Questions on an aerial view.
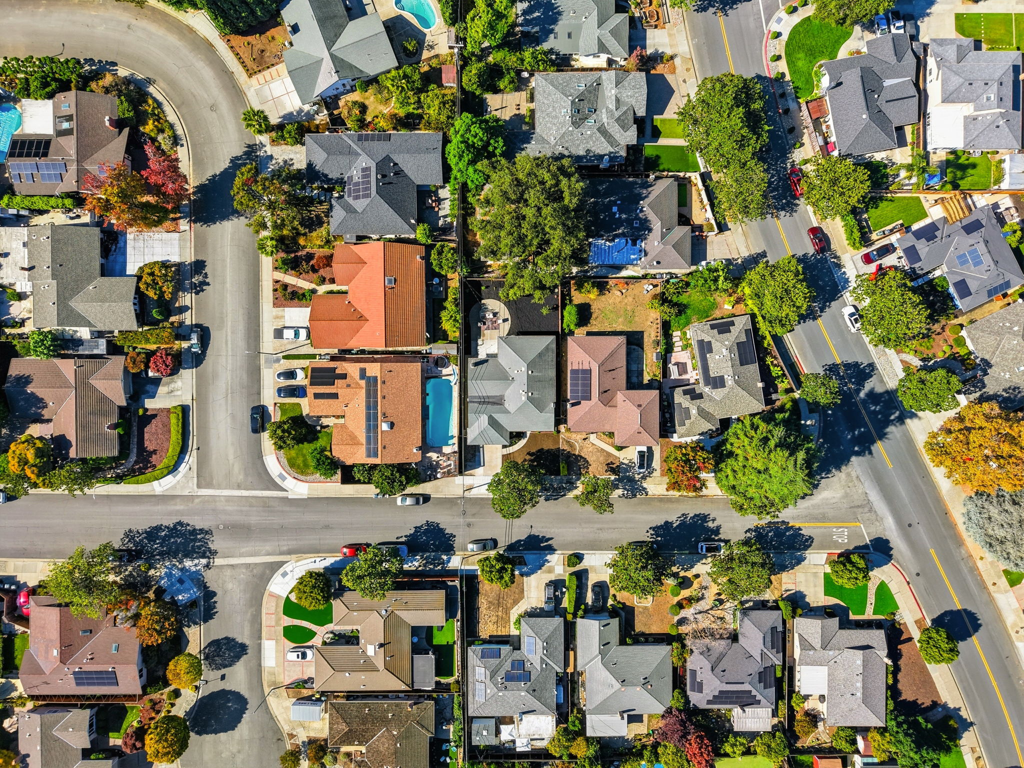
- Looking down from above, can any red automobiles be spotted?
Yes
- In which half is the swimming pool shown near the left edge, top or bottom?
top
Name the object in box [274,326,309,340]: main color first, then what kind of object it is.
white vehicle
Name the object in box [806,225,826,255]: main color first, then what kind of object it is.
red car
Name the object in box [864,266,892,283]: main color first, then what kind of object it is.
red car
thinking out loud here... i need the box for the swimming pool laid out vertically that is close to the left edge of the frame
[0,100,23,154]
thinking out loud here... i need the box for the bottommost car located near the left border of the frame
[17,587,32,614]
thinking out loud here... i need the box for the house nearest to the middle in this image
[467,336,555,445]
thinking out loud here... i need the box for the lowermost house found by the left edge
[8,704,122,768]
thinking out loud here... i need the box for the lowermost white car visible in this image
[286,646,314,661]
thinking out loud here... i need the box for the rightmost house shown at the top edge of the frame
[922,38,1024,153]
